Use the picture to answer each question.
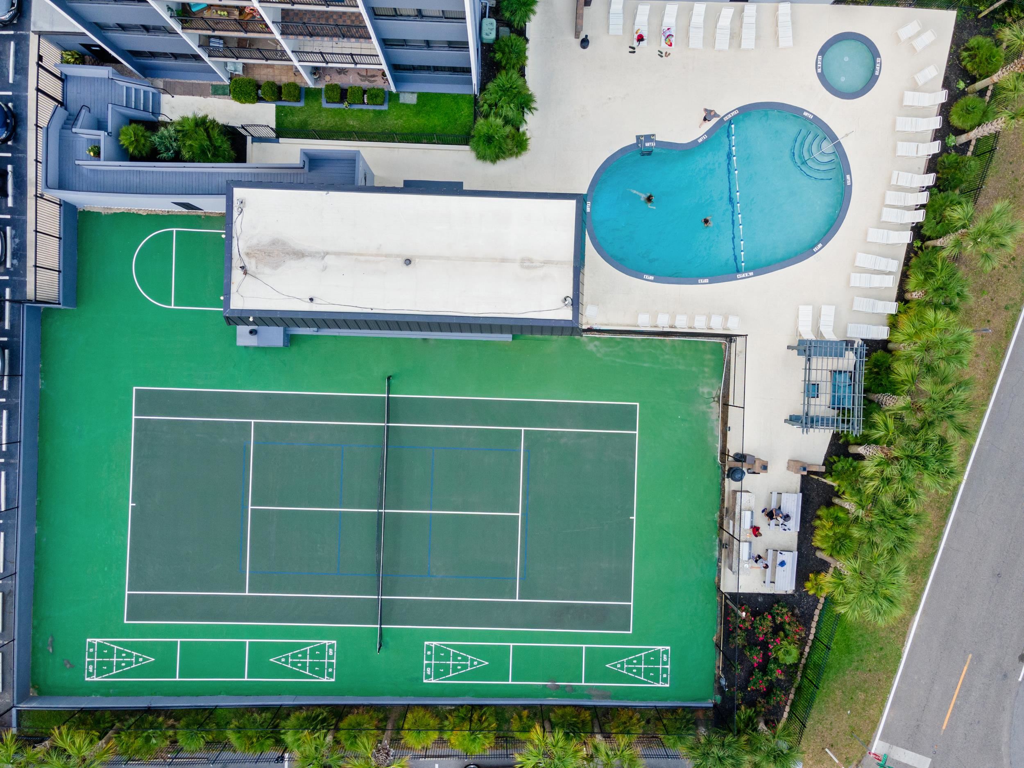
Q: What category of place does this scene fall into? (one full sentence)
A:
It's a sports ground.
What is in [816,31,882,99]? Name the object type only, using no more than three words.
swimming pool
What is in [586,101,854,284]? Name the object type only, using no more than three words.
swimming pool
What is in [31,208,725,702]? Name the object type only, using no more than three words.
tennis court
